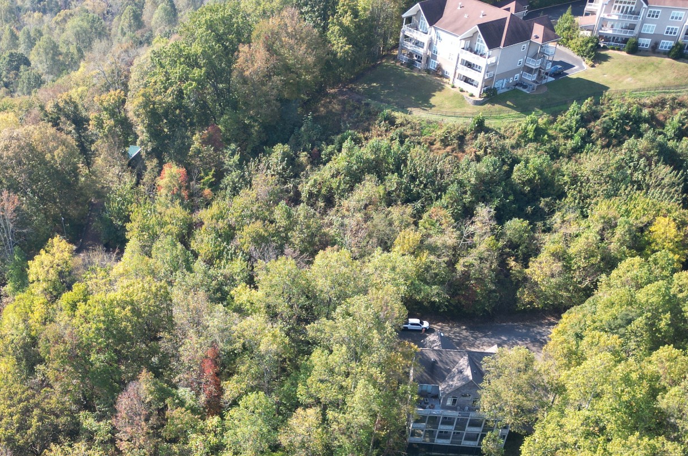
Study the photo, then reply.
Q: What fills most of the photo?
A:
trees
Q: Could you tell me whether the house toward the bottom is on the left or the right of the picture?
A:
right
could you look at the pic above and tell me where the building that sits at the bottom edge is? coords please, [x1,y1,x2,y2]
[408,326,509,456]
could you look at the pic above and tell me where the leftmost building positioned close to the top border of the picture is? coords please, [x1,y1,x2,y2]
[399,0,572,96]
